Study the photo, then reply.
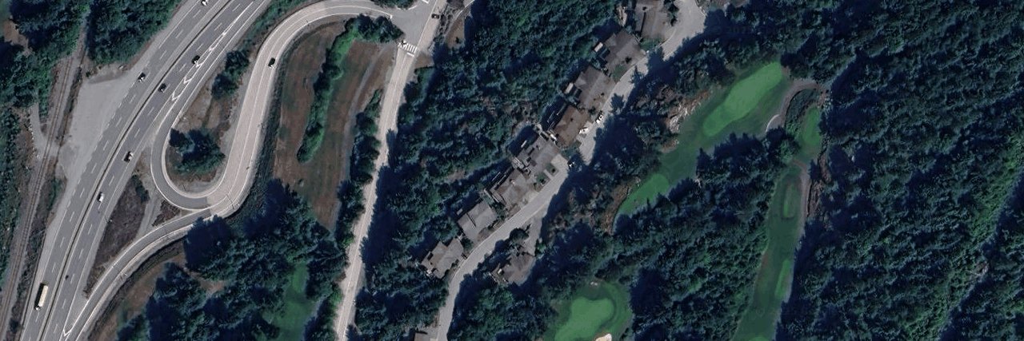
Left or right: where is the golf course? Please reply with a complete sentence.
It is on the right.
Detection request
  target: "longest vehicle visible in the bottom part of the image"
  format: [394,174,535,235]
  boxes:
[37,284,50,309]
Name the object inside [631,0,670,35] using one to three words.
house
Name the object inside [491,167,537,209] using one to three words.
house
